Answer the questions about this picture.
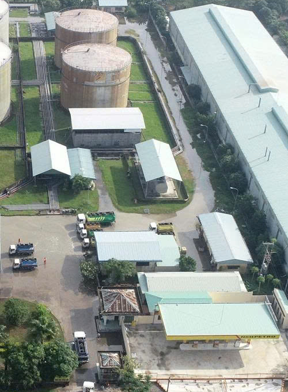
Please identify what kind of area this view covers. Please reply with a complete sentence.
This looks like an industrial area.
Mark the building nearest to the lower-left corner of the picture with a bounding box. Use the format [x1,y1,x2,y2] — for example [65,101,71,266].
[97,350,122,379]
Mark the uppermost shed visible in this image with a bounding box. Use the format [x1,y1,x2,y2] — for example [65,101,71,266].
[98,0,127,14]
